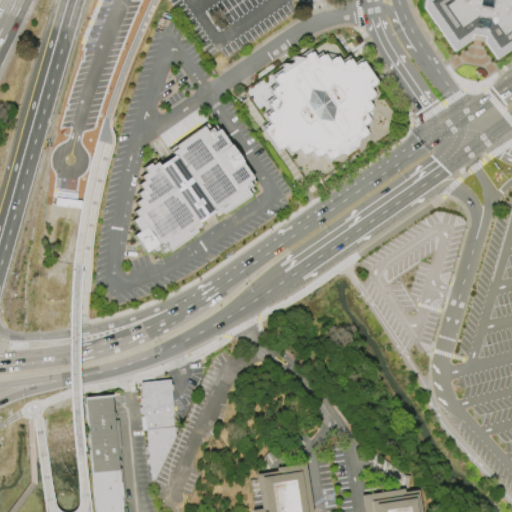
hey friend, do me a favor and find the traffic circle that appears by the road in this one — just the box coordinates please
[52,139,90,198]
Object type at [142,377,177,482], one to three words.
shed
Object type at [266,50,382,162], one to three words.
building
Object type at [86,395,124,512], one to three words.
shed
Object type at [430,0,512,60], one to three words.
building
